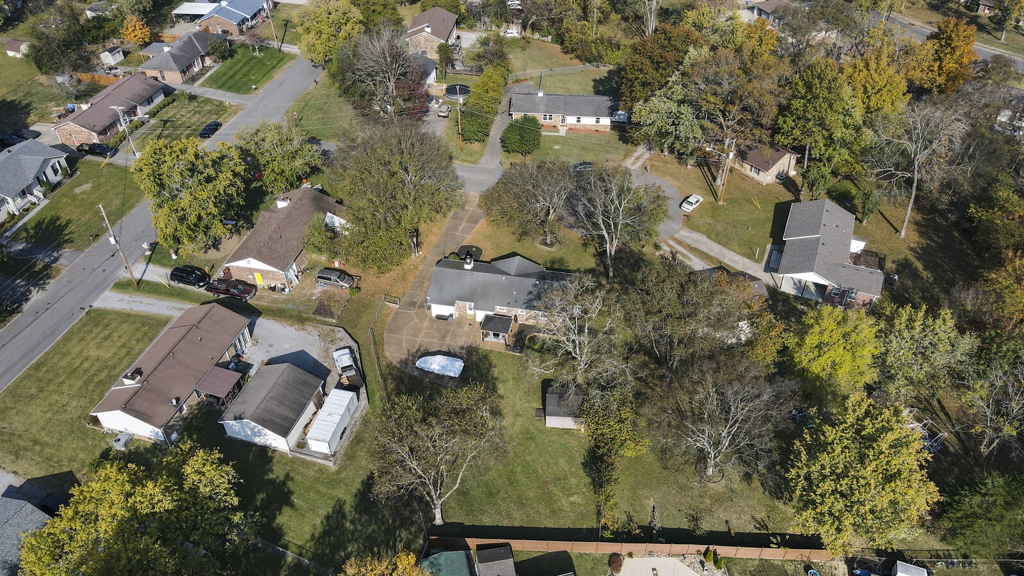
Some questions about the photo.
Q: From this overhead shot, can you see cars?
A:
Yes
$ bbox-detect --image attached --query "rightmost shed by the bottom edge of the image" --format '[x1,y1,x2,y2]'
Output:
[476,545,516,576]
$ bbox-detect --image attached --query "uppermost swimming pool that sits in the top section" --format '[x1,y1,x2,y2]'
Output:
[443,86,470,105]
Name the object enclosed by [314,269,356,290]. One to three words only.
vehicle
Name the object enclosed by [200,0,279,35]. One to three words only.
house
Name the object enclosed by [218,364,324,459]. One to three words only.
building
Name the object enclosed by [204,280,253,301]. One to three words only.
truck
